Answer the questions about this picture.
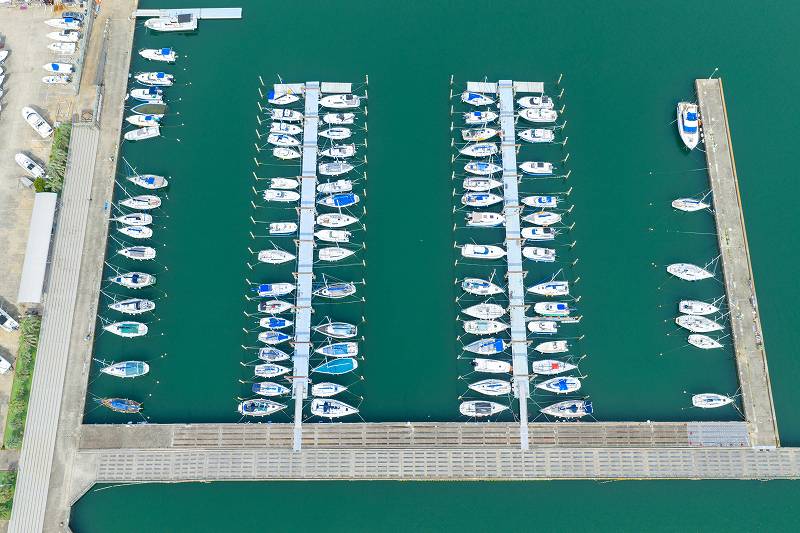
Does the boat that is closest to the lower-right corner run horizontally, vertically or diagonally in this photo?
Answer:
horizontally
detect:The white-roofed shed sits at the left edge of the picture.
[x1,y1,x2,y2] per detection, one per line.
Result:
[16,192,62,305]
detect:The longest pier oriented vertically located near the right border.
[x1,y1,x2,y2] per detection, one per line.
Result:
[693,76,781,446]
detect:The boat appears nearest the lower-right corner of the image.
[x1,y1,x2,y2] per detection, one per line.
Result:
[684,389,744,409]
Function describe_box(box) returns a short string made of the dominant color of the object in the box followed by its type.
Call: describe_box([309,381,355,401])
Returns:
white boat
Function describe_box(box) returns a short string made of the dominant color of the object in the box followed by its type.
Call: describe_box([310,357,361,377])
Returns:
blue boat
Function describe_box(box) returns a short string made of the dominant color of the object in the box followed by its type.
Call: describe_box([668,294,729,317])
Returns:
white boat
